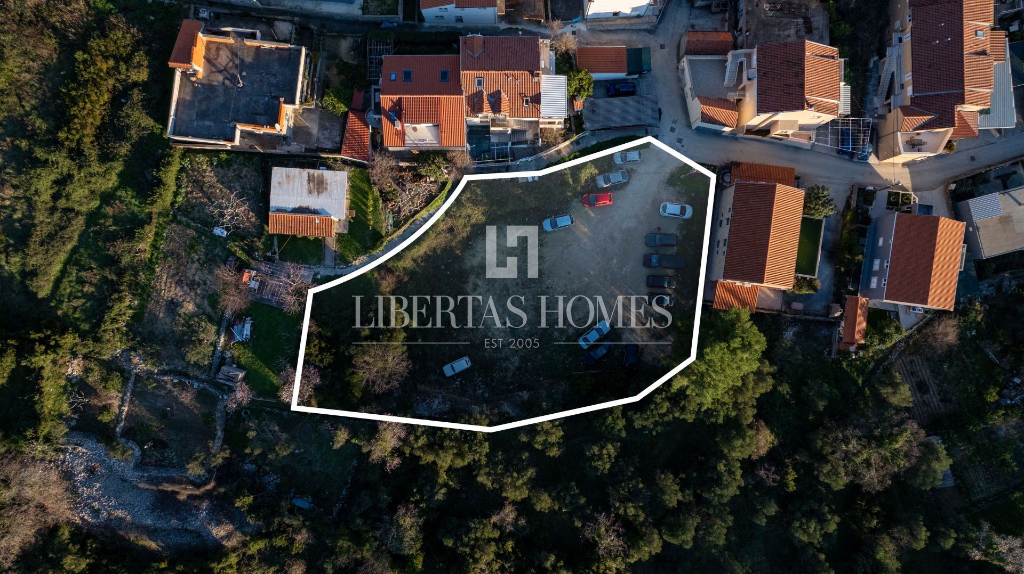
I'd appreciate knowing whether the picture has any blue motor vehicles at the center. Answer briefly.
Yes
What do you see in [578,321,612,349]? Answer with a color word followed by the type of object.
blue car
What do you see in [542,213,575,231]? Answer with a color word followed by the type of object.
blue car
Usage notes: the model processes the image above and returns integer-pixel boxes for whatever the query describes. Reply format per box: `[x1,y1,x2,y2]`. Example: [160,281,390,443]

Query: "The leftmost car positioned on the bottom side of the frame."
[441,356,472,378]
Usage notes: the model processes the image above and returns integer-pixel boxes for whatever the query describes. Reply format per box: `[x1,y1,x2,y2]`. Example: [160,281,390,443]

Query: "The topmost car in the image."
[607,79,637,95]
